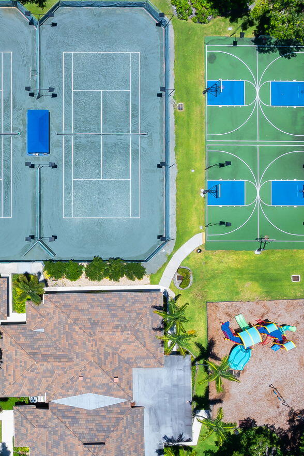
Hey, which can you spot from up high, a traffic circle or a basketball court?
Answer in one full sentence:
This aerial view contains a basketball court.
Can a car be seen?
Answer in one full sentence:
No, this view has no car in it.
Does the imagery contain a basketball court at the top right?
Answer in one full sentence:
Yes, a basketball court shows up at the top right.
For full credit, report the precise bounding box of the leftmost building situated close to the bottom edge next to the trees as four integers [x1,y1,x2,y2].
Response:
[0,293,192,456]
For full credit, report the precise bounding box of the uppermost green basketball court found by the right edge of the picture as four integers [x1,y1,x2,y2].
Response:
[205,36,304,143]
